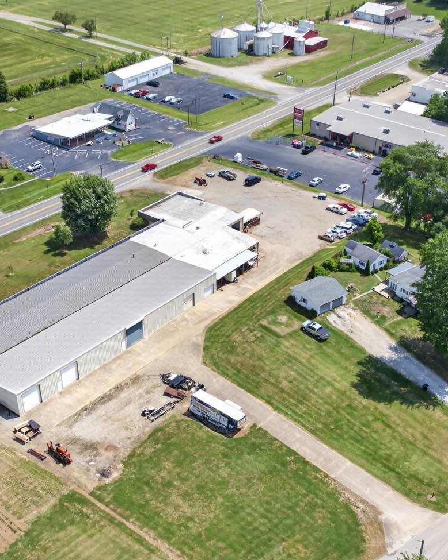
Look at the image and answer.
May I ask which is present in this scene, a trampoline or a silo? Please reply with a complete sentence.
The one in the frame is a silo.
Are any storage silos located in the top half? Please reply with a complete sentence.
Yes, you'll find a storage silo in the top half.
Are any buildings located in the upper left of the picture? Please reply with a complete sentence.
Yes, a building appears in the upper left of the picture.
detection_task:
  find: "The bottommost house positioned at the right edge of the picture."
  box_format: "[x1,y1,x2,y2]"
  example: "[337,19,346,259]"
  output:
[366,256,433,316]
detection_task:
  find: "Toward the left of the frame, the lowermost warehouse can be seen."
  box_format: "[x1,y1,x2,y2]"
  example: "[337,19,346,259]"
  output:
[0,187,263,416]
